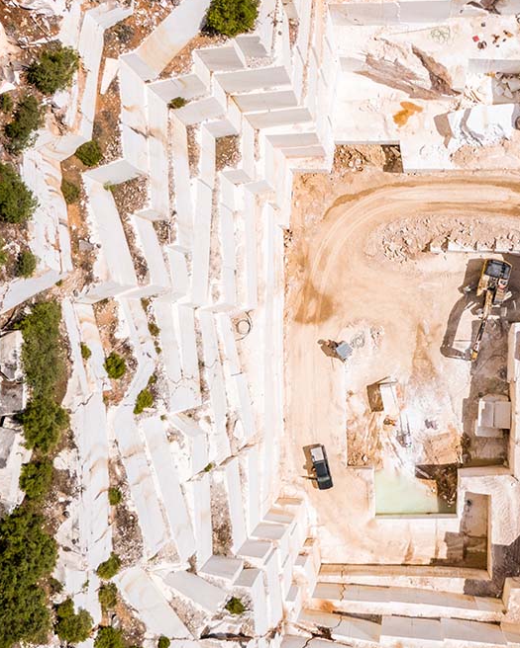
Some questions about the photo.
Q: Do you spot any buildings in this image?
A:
No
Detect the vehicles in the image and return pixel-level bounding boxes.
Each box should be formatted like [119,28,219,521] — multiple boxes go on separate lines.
[306,445,332,493]
[474,255,514,354]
